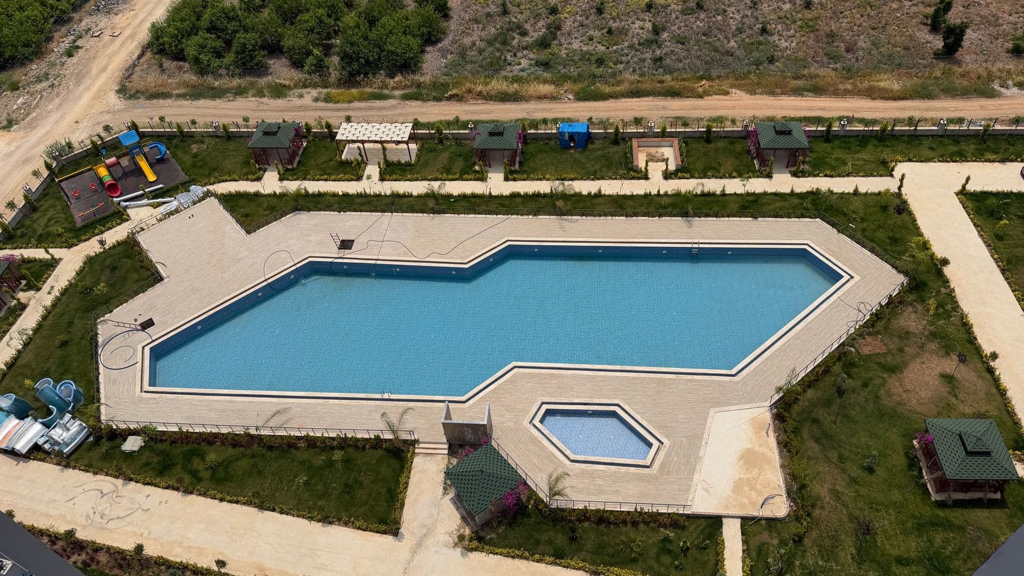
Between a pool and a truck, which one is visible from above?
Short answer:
pool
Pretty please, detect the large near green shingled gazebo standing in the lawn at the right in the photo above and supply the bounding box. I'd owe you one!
[914,418,1022,497]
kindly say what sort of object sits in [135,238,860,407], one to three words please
swimming pool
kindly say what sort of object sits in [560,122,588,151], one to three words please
shed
